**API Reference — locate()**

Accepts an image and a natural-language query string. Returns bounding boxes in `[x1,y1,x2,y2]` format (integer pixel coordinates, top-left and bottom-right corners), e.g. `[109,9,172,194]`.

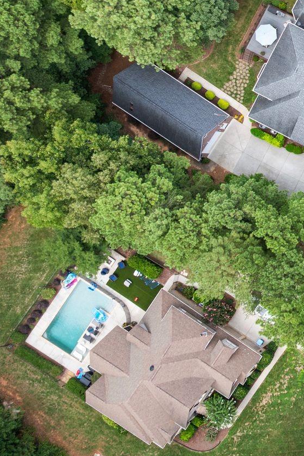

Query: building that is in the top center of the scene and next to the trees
[112,61,233,160]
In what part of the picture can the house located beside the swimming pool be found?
bottom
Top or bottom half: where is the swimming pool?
bottom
